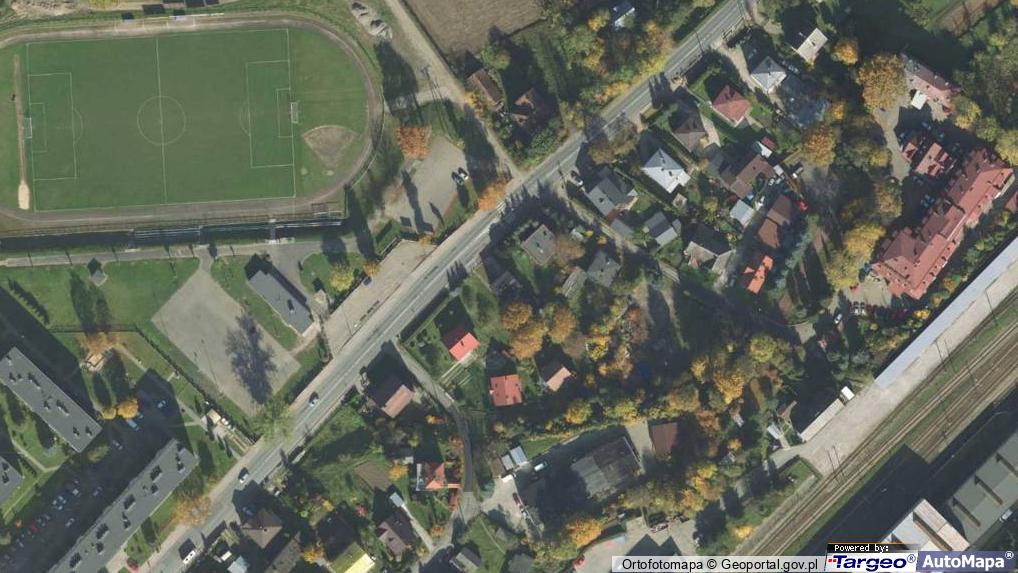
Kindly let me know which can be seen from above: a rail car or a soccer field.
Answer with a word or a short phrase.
soccer field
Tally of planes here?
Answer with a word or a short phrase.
0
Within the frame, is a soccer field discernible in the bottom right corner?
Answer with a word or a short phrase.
No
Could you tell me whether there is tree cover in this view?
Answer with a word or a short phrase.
Yes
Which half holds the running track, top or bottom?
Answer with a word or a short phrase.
top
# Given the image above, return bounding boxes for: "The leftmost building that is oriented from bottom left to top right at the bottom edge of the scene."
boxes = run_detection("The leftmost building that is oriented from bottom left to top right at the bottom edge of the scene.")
[36,439,199,573]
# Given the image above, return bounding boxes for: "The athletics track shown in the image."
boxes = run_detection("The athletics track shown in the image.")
[0,13,385,225]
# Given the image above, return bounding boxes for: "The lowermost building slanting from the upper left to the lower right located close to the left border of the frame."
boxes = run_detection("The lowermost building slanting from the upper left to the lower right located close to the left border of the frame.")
[0,345,102,454]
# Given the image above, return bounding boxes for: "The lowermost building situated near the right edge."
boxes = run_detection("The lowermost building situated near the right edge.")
[850,499,969,573]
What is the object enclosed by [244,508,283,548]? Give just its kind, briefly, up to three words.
house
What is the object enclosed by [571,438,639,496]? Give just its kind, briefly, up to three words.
building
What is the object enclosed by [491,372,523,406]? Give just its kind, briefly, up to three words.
house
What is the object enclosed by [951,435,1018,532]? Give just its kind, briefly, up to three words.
building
